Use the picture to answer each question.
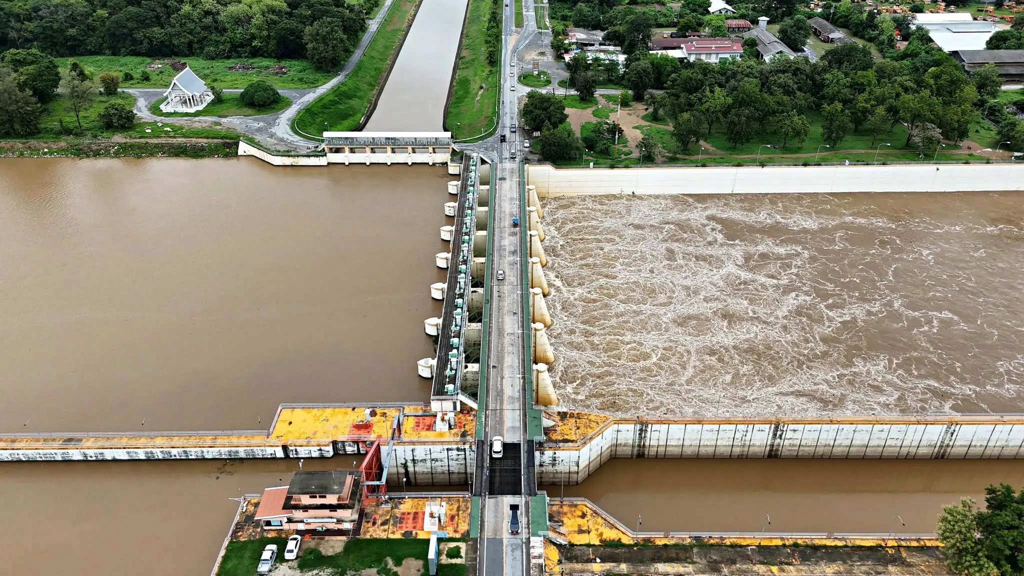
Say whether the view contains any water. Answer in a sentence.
Yes, some water is visible.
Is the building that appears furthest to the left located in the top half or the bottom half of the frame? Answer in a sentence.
The building that appears furthest to the left sits in the top half of the picture.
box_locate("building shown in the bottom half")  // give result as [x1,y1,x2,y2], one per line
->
[253,471,364,541]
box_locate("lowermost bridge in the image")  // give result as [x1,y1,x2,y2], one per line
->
[458,490,549,576]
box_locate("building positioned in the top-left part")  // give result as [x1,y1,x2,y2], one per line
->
[159,63,213,116]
